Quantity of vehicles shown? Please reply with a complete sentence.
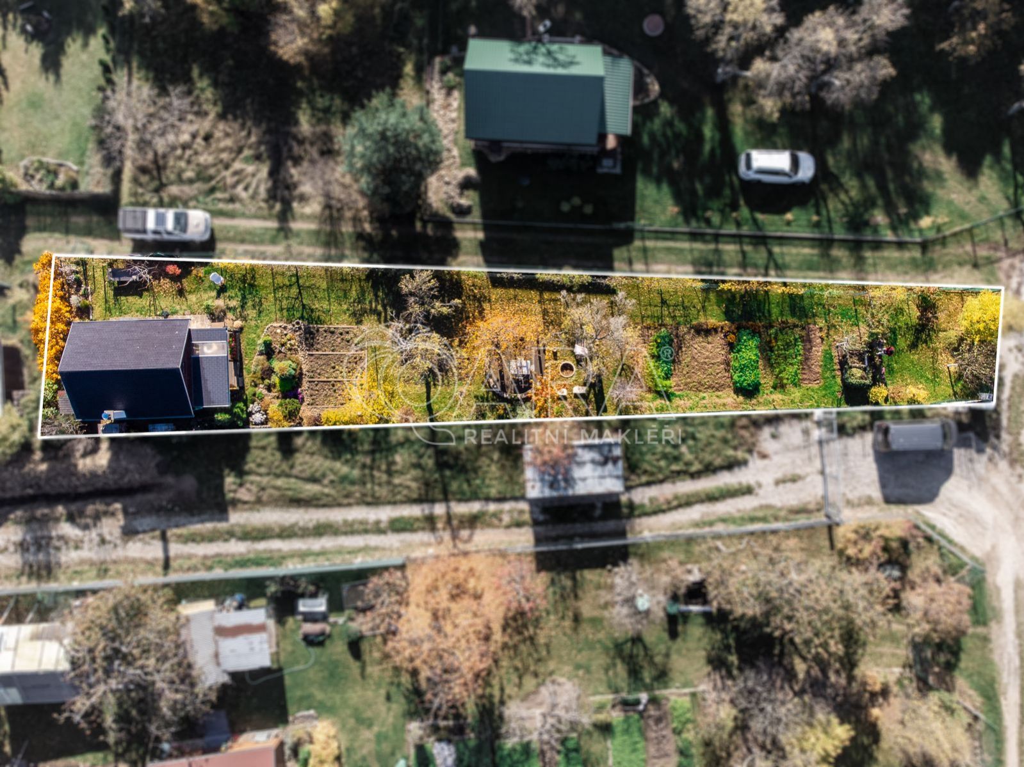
In total, there are 3 vehicles in the scene.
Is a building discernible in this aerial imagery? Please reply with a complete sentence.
Yes, a building appears in the view.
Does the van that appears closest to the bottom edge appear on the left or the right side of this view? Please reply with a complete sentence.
It is on the right.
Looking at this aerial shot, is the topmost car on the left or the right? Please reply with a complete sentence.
The topmost car is on the right side of the image.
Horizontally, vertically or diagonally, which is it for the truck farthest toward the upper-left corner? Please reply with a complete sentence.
In this picture, the truck farthest toward the upper-left corner is oriented horizontally.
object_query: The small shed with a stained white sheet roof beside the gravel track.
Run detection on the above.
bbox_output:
[523,438,625,500]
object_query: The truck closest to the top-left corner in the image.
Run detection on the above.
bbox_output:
[116,205,214,244]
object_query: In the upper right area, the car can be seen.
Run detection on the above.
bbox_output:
[736,148,814,188]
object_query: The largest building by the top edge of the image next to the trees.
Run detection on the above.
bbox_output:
[464,37,636,159]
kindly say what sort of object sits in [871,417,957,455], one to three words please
van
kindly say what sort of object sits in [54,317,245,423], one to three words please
house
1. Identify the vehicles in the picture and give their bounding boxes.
[736,148,814,188]
[871,417,957,455]
[116,205,214,244]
